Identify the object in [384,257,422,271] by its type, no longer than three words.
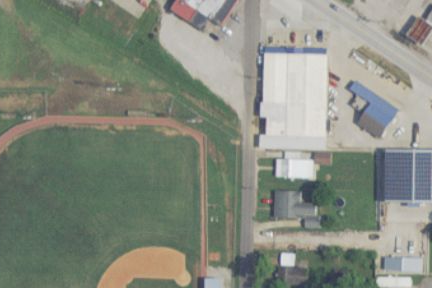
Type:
building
